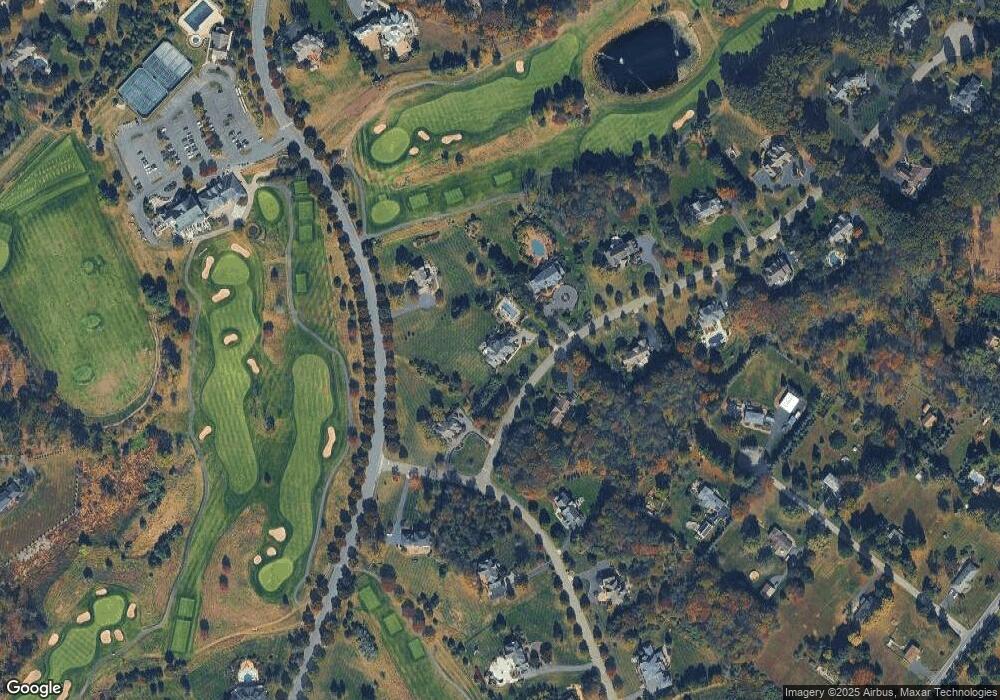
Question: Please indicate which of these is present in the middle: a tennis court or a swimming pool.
swimming pool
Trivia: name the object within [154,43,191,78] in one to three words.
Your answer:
tennis court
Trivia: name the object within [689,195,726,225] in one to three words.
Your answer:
house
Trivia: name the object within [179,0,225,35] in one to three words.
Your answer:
swimming pool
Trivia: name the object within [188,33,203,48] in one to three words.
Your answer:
swimming pool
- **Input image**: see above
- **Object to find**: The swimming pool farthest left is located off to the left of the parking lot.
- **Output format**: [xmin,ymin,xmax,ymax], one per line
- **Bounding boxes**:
[33,54,51,74]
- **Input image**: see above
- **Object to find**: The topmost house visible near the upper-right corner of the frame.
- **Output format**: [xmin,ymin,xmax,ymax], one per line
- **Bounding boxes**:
[892,4,919,35]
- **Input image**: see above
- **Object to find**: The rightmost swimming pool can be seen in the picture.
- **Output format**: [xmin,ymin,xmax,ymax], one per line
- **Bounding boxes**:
[825,252,842,268]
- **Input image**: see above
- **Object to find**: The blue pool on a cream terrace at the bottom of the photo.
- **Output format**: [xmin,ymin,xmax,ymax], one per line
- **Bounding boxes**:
[238,658,259,684]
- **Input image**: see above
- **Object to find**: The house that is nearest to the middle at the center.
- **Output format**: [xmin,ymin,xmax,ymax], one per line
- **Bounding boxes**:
[478,330,521,366]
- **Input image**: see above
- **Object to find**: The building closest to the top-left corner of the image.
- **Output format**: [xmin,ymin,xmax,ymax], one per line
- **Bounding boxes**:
[2,34,39,65]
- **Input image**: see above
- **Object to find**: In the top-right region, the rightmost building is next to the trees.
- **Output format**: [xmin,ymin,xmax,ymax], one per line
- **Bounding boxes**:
[950,70,986,113]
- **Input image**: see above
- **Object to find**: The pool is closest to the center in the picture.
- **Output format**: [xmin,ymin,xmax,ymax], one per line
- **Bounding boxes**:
[495,296,520,324]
